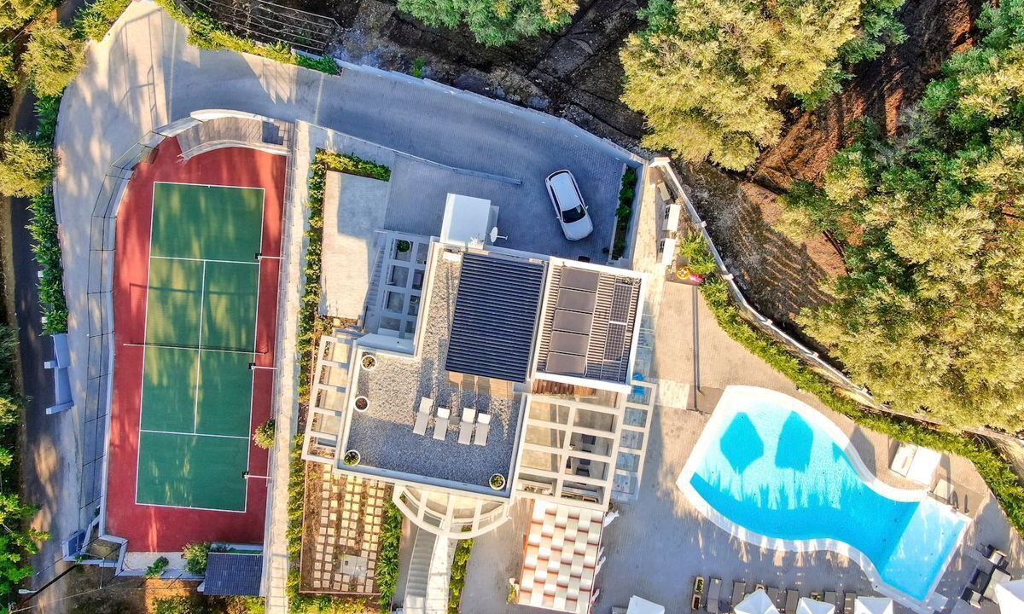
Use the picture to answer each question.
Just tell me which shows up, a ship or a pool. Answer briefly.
pool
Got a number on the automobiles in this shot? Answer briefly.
1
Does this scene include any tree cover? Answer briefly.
Yes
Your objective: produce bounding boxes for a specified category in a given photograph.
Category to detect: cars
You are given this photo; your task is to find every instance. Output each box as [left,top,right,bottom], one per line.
[546,168,595,245]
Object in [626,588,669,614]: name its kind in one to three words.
umbrella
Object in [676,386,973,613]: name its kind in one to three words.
swimming pool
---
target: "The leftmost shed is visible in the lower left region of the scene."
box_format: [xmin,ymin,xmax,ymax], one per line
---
[197,540,263,596]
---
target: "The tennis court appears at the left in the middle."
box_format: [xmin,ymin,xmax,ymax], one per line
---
[107,138,287,553]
